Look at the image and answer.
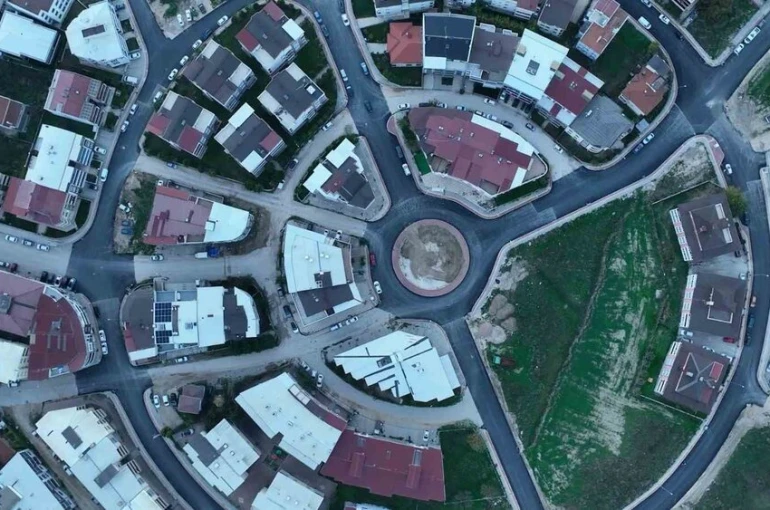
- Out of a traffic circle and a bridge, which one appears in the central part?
traffic circle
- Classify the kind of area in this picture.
residential area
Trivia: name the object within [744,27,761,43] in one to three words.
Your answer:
vehicle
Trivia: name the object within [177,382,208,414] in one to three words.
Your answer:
shed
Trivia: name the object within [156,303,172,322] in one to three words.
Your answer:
solar panel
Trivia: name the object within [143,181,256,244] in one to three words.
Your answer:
building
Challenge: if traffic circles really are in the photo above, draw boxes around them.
[392,219,469,296]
